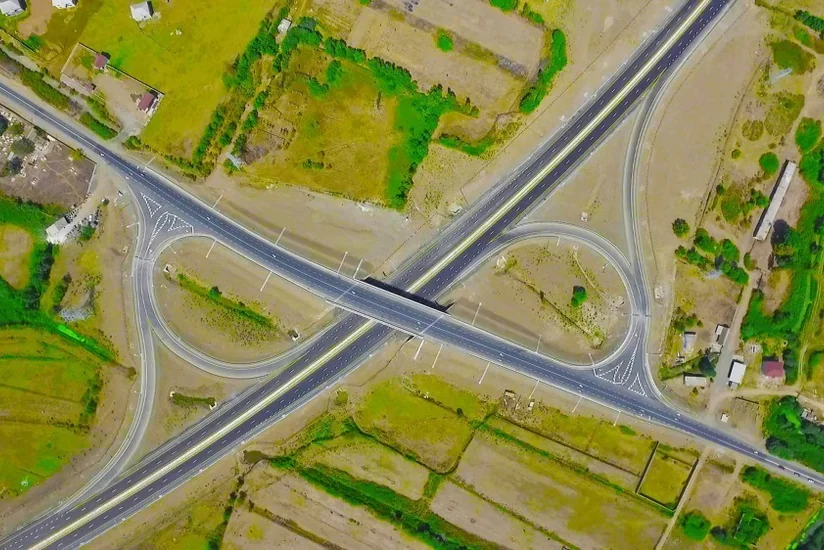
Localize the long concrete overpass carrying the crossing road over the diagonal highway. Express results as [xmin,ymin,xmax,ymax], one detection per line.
[326,279,450,339]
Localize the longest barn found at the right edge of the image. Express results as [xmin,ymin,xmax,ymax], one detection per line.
[755,160,793,242]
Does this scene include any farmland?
Yes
